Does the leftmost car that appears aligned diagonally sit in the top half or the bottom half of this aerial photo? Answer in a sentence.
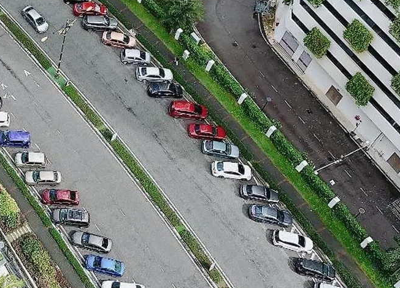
Seen from above, the leftmost car that appears aligned diagonally lies in the top half of the view.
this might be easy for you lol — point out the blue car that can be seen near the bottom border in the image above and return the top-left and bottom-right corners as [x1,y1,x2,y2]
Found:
[80,251,125,278]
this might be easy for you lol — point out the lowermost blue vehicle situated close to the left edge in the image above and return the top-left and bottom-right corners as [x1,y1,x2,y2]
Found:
[0,129,32,150]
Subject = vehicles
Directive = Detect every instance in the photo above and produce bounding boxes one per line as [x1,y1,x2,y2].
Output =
[199,141,241,161]
[52,206,92,228]
[80,251,125,278]
[68,227,111,252]
[99,276,144,288]
[0,112,10,129]
[121,50,152,67]
[292,255,338,283]
[247,204,293,230]
[20,6,52,33]
[169,101,207,122]
[146,82,185,100]
[186,124,228,142]
[40,188,82,207]
[269,228,316,257]
[136,68,174,83]
[237,183,280,207]
[209,162,253,183]
[0,129,32,150]
[101,32,137,50]
[23,168,63,188]
[15,151,48,169]
[84,14,117,32]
